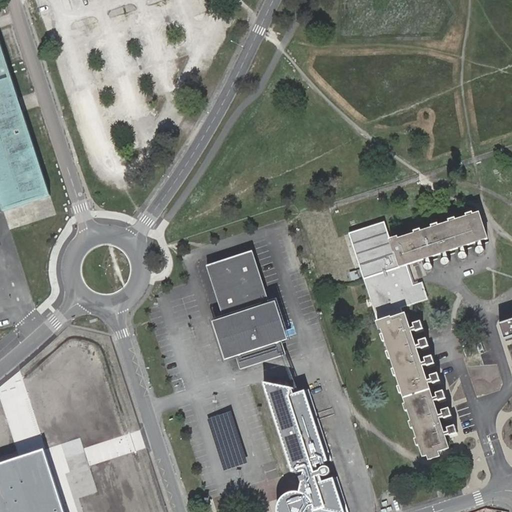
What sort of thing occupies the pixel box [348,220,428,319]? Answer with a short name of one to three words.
building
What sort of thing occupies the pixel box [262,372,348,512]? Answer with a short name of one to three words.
building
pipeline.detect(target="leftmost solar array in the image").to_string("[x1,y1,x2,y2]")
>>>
[208,411,247,470]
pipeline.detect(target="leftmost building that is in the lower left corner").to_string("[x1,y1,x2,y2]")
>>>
[0,448,65,512]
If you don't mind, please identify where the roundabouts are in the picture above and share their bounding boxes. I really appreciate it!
[50,220,152,334]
